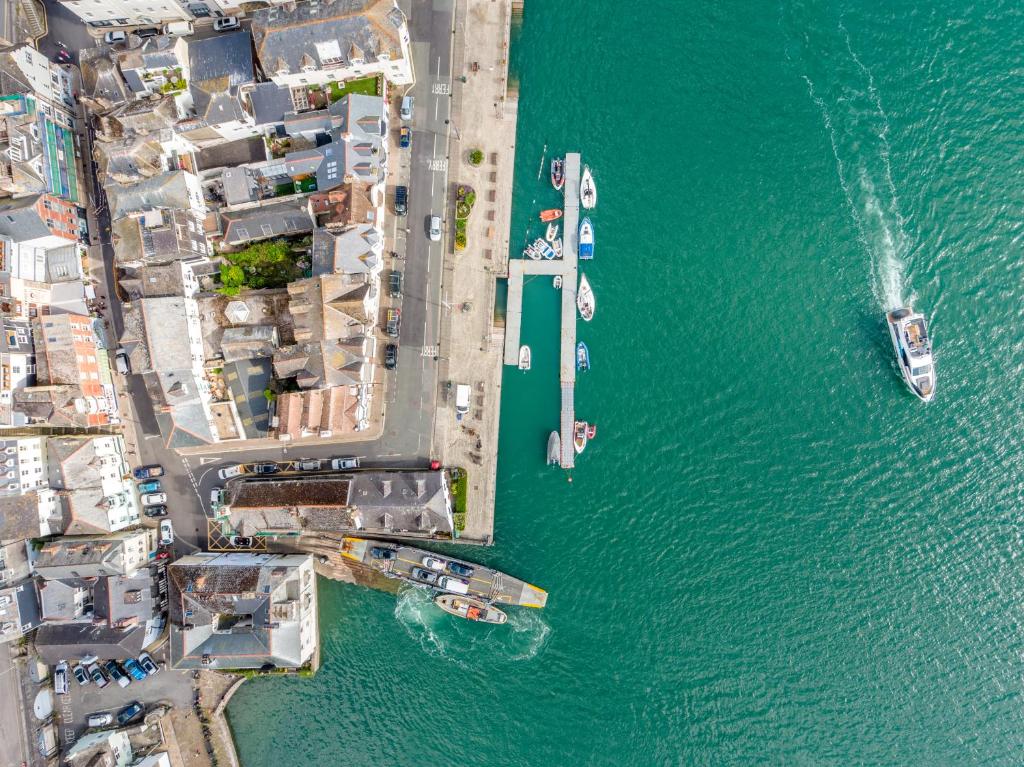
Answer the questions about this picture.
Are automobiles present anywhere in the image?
Yes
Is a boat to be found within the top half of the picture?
Yes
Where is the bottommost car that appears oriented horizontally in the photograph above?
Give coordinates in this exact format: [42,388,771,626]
[86,711,115,726]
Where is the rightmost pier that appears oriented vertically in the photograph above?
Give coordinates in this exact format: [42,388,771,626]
[504,153,580,468]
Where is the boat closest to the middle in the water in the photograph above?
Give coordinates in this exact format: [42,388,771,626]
[519,346,531,371]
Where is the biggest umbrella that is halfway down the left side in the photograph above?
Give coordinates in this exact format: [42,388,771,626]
[226,298,248,323]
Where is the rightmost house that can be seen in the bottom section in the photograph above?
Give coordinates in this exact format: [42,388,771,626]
[350,467,454,534]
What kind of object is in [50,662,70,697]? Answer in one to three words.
vehicle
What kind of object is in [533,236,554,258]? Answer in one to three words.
boat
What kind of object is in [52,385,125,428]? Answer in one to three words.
house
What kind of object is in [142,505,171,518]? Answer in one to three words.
vehicle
